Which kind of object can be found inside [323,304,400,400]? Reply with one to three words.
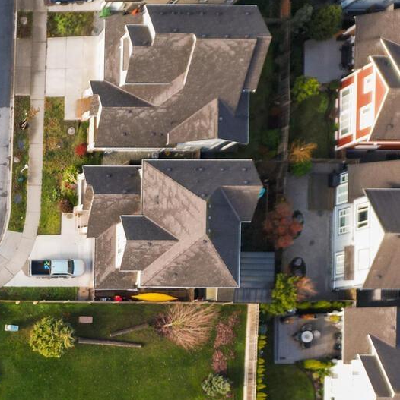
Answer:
house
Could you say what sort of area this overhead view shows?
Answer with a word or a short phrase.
residential area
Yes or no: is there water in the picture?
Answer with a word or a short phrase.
No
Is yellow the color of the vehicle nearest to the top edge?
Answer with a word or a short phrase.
No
